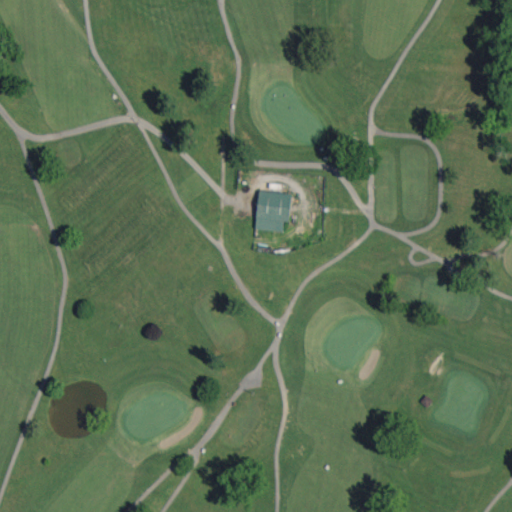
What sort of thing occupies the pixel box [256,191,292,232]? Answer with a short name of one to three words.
barn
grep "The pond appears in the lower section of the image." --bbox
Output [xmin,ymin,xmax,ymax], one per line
[49,380,108,438]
